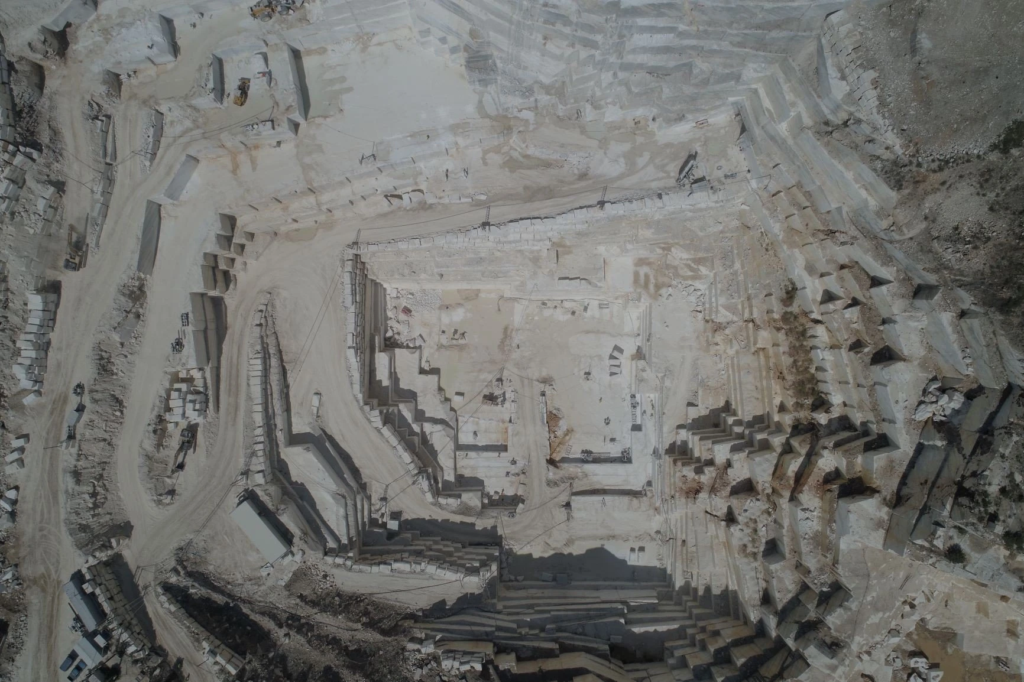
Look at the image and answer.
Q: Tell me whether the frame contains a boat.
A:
No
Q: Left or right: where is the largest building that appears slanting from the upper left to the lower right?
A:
left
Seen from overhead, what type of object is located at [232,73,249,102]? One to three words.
work vehicle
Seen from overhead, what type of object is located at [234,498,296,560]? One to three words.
building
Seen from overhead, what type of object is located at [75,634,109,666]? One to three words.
shed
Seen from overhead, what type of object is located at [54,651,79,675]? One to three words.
car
